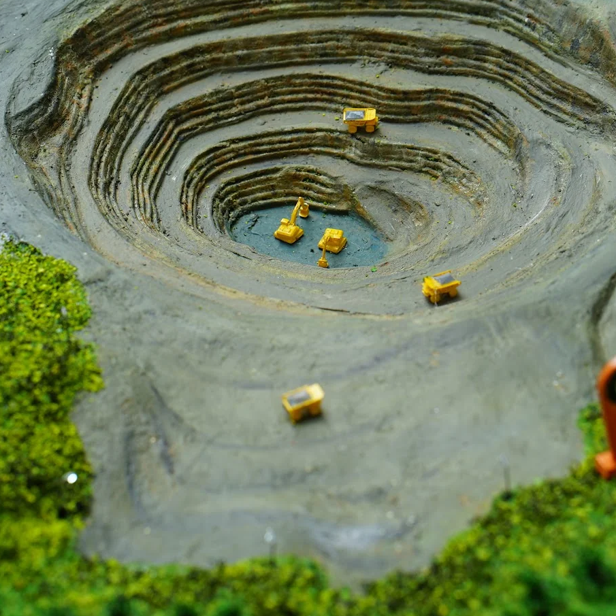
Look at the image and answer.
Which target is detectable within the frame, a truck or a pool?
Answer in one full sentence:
Of the two, only a truck appears.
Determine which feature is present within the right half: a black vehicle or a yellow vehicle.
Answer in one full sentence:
Looking within the right half, you will find a yellow vehicle.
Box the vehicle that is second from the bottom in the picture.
[421,269,459,301]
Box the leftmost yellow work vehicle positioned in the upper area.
[273,202,309,246]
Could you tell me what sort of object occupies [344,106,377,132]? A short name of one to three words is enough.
truck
